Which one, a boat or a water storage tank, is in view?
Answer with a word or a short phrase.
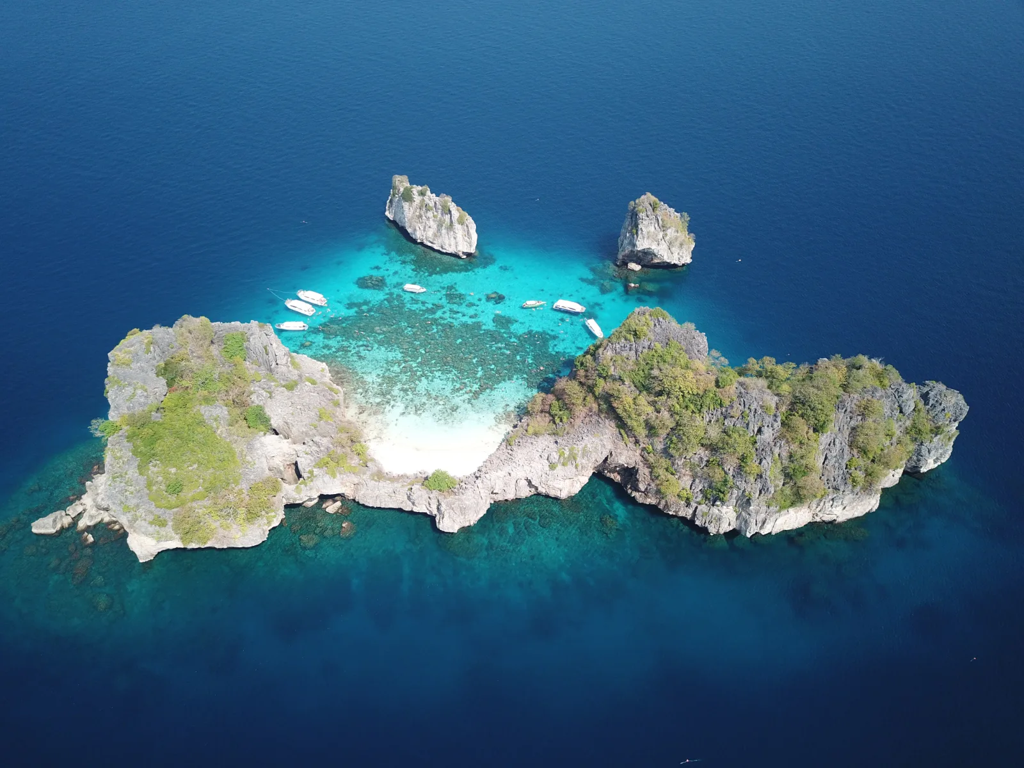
boat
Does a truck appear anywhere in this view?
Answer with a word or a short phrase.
No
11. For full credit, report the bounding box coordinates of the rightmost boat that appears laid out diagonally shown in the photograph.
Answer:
[584,317,602,337]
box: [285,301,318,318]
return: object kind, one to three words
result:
boat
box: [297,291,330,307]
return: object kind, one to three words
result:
boat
